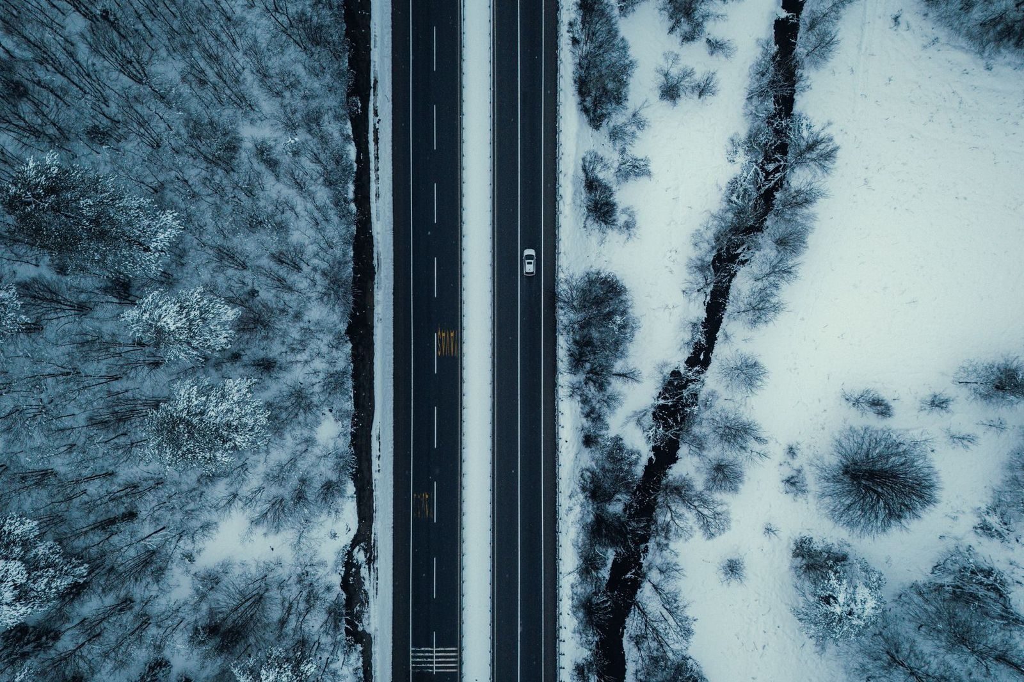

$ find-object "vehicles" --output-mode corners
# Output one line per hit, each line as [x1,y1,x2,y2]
[523,249,537,276]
